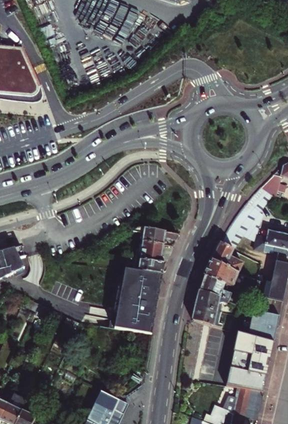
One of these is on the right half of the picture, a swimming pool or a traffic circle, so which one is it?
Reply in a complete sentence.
Looking on the right half of the picture, you will find a traffic circle.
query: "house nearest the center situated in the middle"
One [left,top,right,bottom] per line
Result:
[142,226,166,244]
